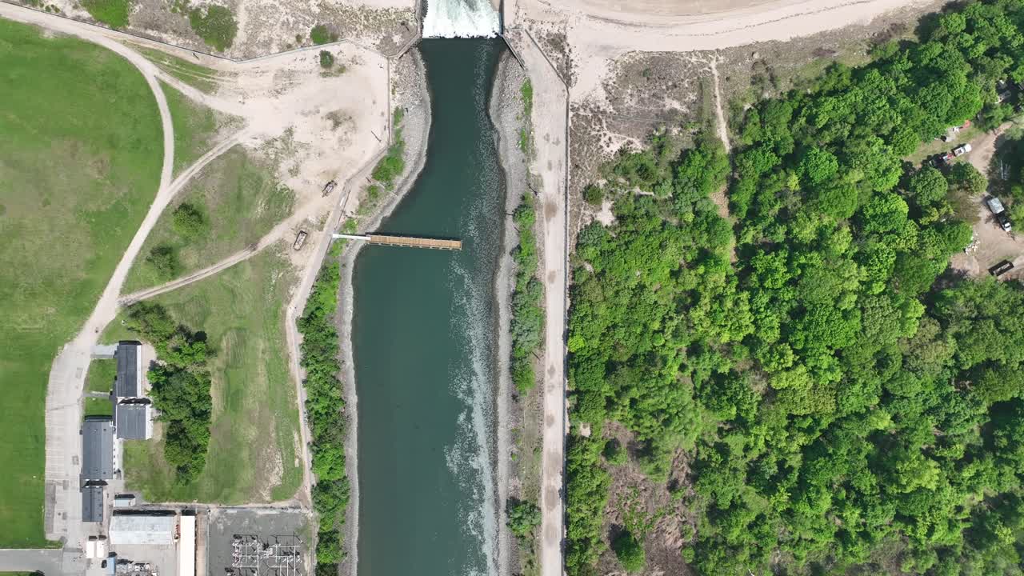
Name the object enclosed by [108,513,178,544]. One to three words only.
building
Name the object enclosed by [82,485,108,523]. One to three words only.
building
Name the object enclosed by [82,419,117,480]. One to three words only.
house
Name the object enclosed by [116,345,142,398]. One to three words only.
house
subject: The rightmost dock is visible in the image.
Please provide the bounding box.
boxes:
[365,231,463,251]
